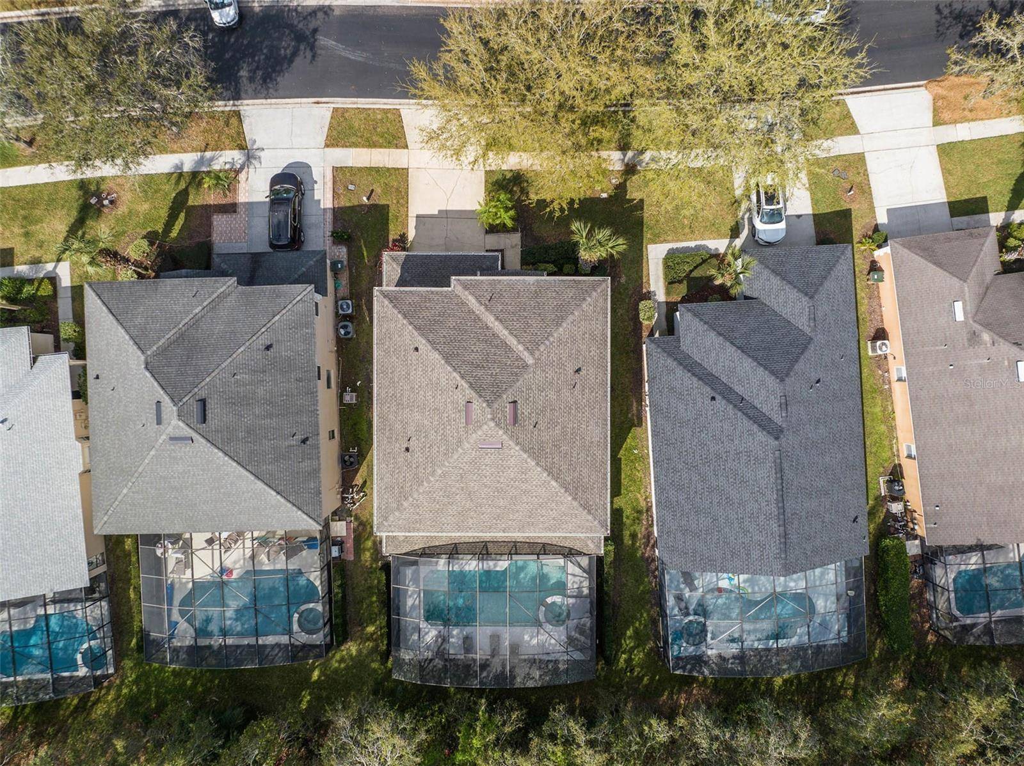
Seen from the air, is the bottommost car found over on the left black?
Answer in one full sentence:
Yes, the bottommost car found over on the left is indeed black.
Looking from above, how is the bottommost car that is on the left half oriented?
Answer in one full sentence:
Seen from above, the bottommost car that is on the left half lies from top to bottom.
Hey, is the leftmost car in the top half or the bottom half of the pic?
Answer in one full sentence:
The top half of the photo is where the leftmost car is.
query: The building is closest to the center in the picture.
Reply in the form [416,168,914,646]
[373,251,612,557]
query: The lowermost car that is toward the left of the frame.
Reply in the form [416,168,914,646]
[263,167,305,248]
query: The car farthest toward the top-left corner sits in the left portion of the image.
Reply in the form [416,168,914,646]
[198,0,240,31]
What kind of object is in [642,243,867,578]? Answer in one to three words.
house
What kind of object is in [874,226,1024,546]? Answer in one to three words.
house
